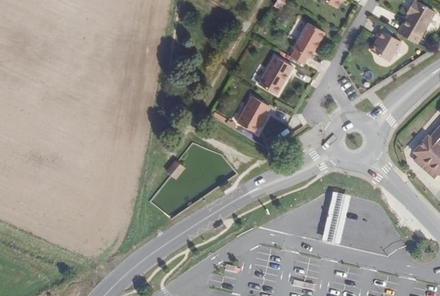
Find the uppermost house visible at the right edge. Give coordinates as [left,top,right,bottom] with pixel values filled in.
[398,2,437,44]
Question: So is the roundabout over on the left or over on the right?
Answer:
right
